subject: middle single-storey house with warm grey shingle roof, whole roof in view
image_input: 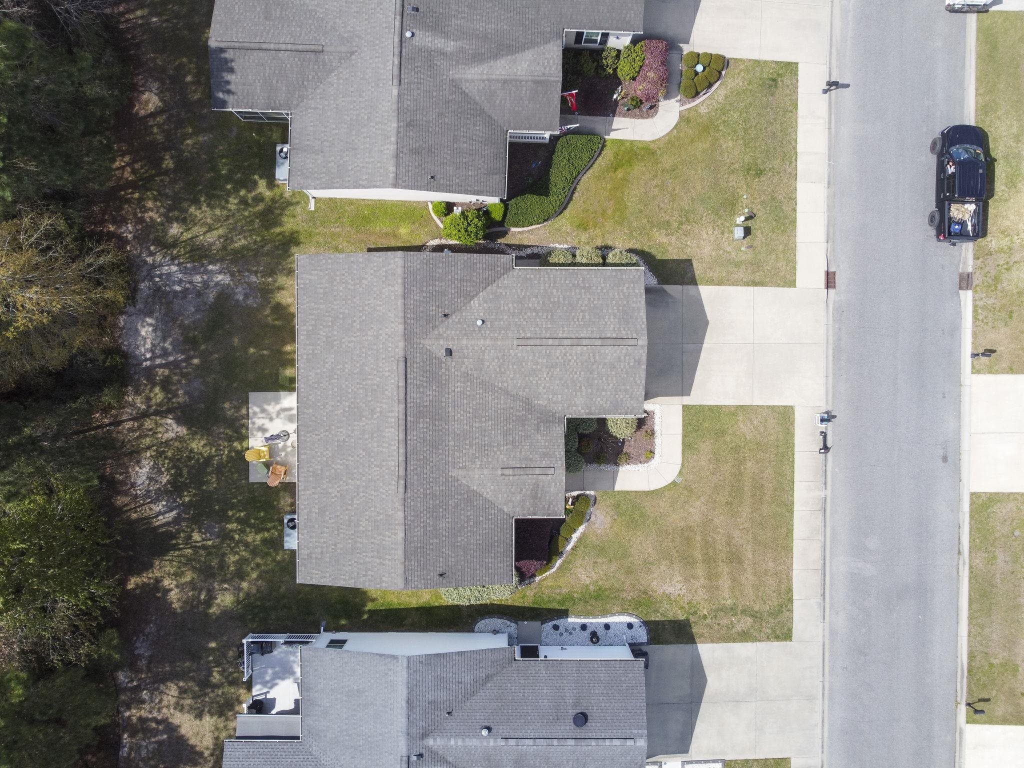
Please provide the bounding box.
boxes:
[297,251,648,590]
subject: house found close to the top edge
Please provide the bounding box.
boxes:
[208,0,645,203]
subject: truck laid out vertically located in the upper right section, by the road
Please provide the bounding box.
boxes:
[928,124,988,248]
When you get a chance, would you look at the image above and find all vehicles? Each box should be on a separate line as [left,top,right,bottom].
[941,0,988,13]
[928,124,988,248]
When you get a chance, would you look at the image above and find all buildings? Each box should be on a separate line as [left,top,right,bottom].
[208,0,645,203]
[297,251,648,590]
[221,629,649,768]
